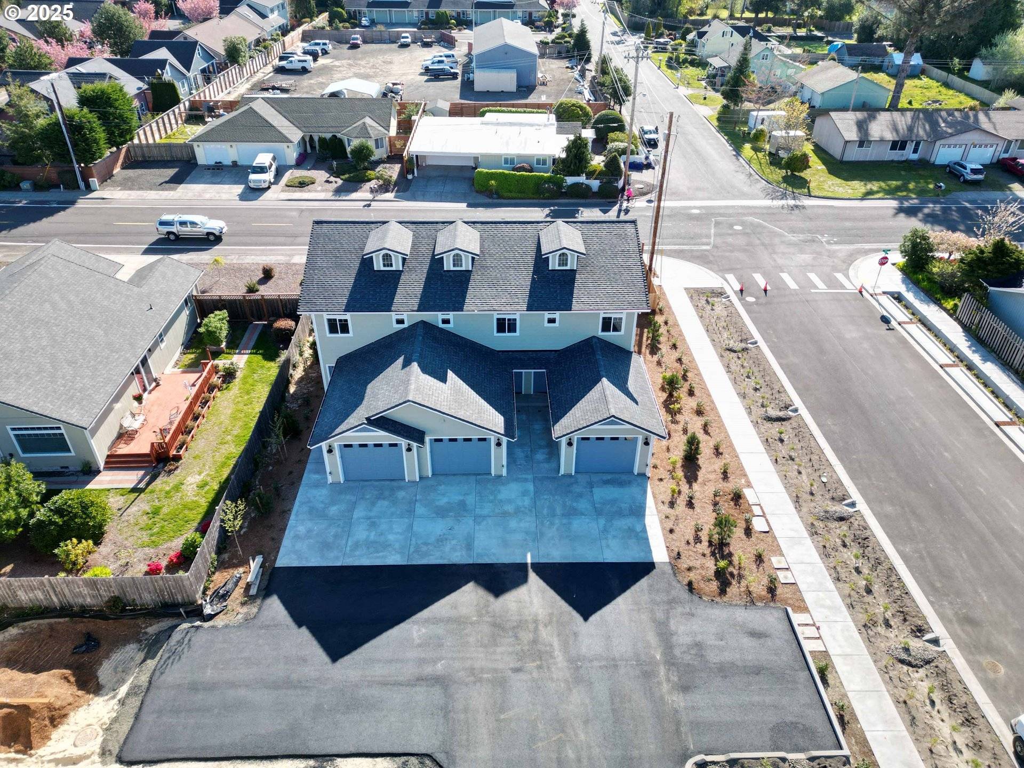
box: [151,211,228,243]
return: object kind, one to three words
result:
truck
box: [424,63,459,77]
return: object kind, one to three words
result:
vehicle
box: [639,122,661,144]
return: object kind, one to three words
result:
car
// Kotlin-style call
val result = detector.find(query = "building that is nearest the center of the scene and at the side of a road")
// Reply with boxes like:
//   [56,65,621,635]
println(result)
[298,211,669,483]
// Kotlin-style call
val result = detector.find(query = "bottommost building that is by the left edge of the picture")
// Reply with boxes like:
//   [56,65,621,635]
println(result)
[0,240,205,469]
